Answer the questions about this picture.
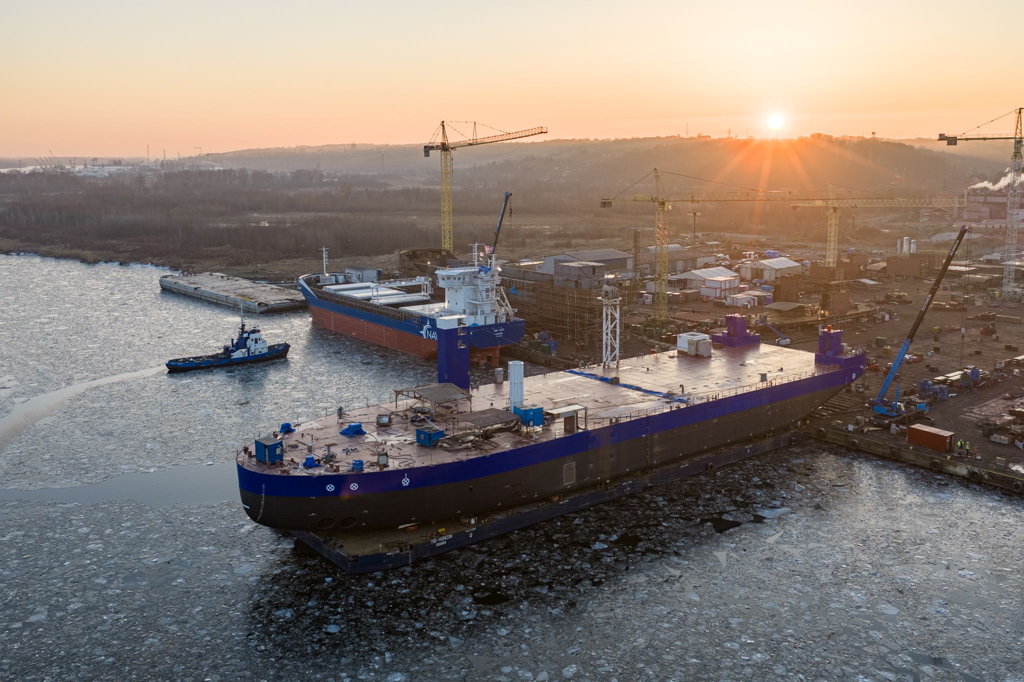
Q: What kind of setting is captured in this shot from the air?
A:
port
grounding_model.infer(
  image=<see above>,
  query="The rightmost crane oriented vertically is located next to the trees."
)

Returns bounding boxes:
[936,108,1024,301]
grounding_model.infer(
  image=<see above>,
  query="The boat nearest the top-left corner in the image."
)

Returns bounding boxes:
[161,293,286,371]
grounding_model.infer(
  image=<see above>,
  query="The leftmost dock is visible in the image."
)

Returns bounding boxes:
[157,276,309,313]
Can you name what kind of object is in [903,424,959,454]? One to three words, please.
shipping container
